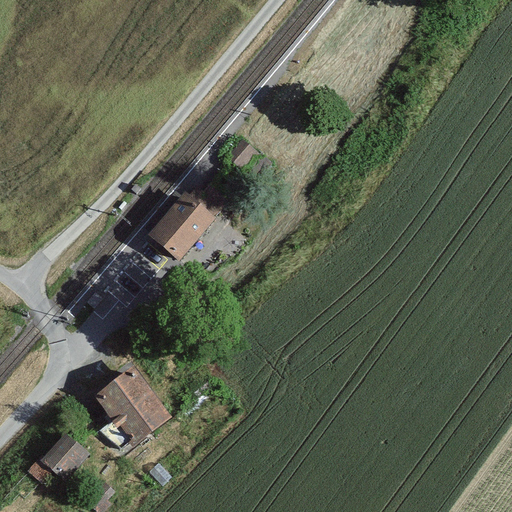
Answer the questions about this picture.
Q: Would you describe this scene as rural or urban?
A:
rural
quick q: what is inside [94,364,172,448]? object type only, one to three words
house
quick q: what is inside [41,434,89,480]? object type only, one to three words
barn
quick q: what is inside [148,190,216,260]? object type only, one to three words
house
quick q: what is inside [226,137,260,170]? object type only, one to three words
shed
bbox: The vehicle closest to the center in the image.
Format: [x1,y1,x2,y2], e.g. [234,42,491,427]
[143,247,164,265]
